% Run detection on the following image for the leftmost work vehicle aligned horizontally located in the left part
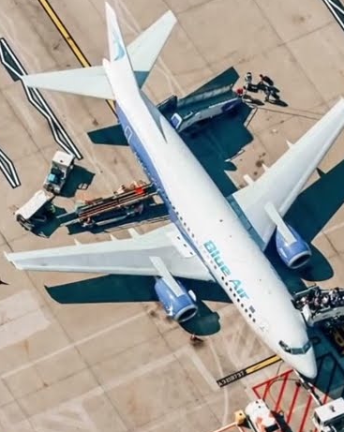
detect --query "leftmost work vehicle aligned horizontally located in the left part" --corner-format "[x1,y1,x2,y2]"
[70,187,161,229]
